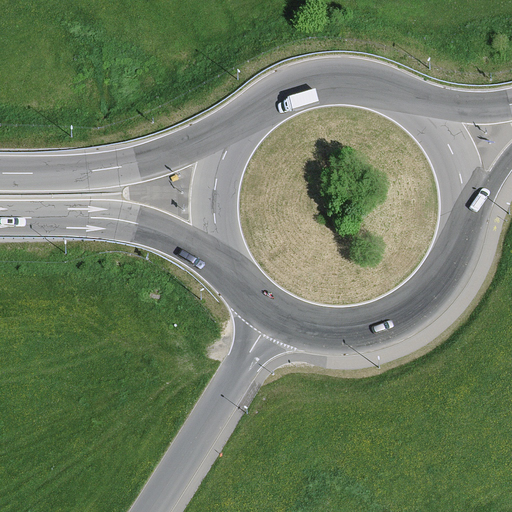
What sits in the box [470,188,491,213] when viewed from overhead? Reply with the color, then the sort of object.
white vehicle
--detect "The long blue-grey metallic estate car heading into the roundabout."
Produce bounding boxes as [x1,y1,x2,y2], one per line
[178,250,205,270]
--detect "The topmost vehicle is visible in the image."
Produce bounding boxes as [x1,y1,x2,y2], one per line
[278,88,318,112]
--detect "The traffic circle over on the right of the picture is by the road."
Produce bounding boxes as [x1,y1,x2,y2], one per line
[134,104,512,353]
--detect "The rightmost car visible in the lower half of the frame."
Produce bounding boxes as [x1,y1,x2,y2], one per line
[372,320,394,334]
